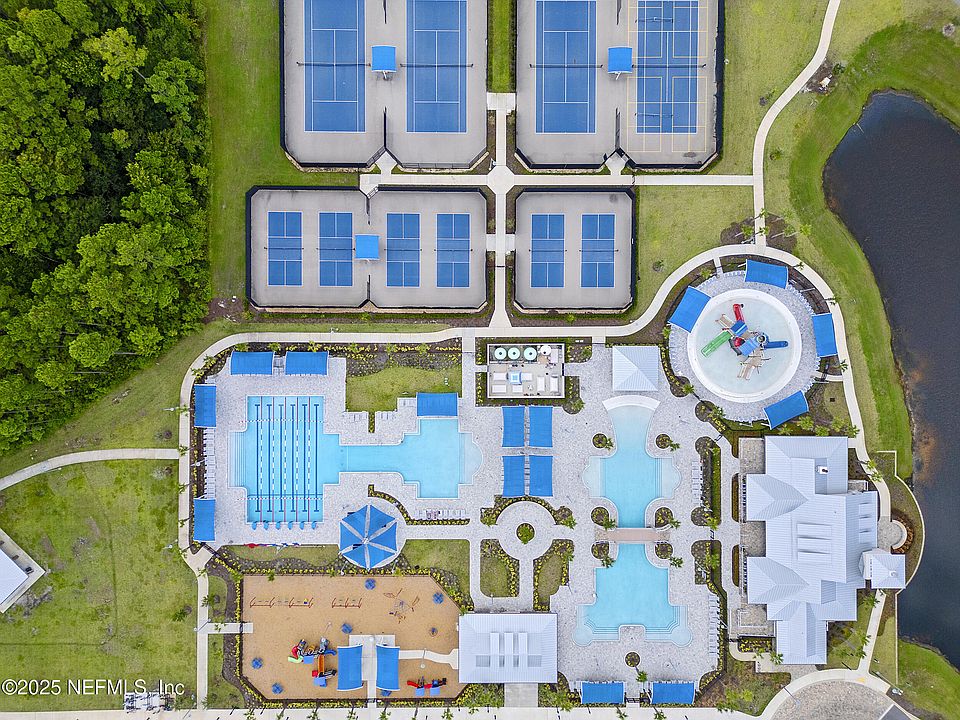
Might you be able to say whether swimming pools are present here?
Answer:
Yes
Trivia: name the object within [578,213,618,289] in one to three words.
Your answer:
sports court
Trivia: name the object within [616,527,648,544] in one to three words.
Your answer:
bridge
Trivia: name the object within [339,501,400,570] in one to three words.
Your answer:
umbrella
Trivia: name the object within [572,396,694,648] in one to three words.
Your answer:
swimming pool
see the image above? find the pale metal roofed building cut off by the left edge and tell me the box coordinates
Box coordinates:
[0,548,29,607]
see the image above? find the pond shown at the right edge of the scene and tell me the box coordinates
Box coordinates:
[819,93,960,673]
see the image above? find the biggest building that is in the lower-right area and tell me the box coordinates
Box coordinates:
[742,436,878,664]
